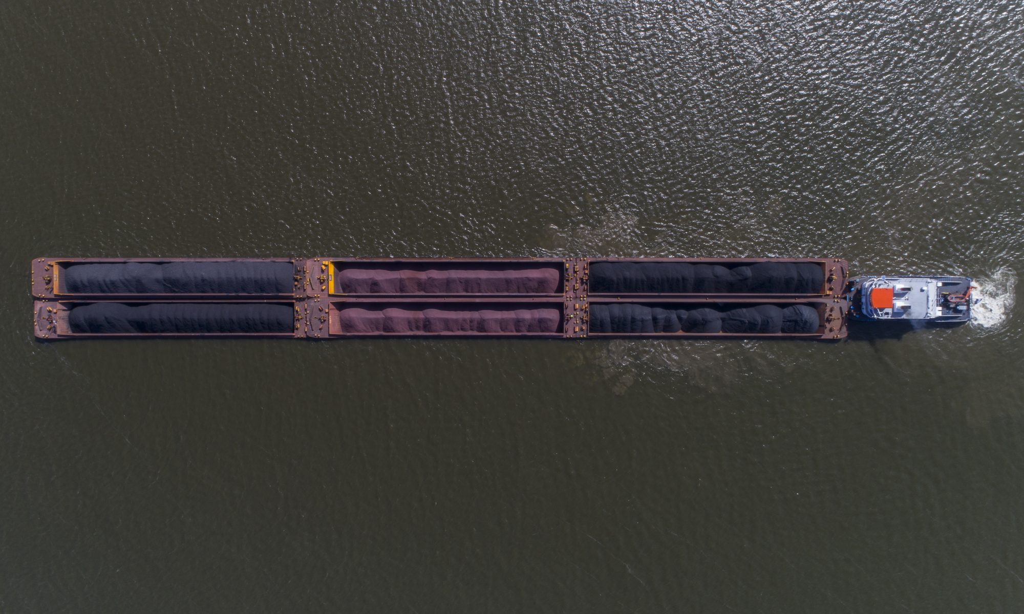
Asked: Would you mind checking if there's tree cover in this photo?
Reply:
No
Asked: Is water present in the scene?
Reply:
Yes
